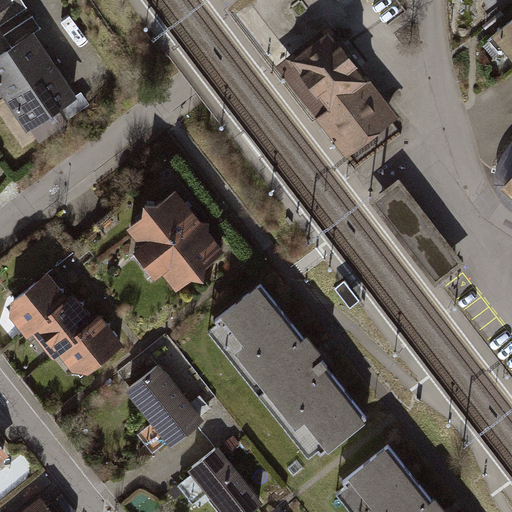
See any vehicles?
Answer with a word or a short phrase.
Yes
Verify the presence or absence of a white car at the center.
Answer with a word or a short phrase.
No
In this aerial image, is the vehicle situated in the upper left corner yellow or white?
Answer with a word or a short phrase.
white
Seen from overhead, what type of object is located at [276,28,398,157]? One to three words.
building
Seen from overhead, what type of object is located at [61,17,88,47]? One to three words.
vehicle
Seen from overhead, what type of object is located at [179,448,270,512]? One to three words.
house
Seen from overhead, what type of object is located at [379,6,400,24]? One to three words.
car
